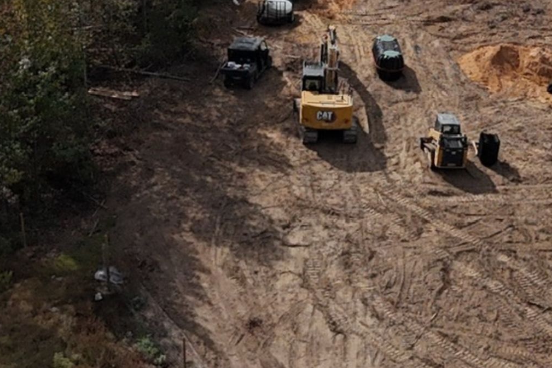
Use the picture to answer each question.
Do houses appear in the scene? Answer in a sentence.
No, there appears to be no house in this shot.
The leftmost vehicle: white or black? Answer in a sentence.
From above, the leftmost vehicle appears black.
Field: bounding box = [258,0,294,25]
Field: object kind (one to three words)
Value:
trailer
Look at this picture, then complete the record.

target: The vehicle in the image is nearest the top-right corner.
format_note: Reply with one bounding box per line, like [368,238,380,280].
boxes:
[417,114,475,169]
